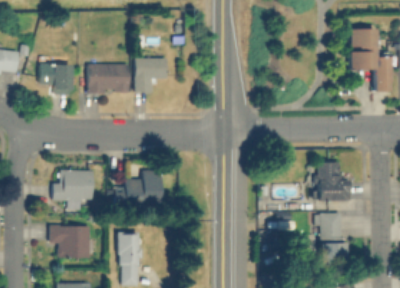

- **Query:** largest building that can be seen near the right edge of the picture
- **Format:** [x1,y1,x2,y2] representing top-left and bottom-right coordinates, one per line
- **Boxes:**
[353,28,394,92]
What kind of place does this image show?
residential area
